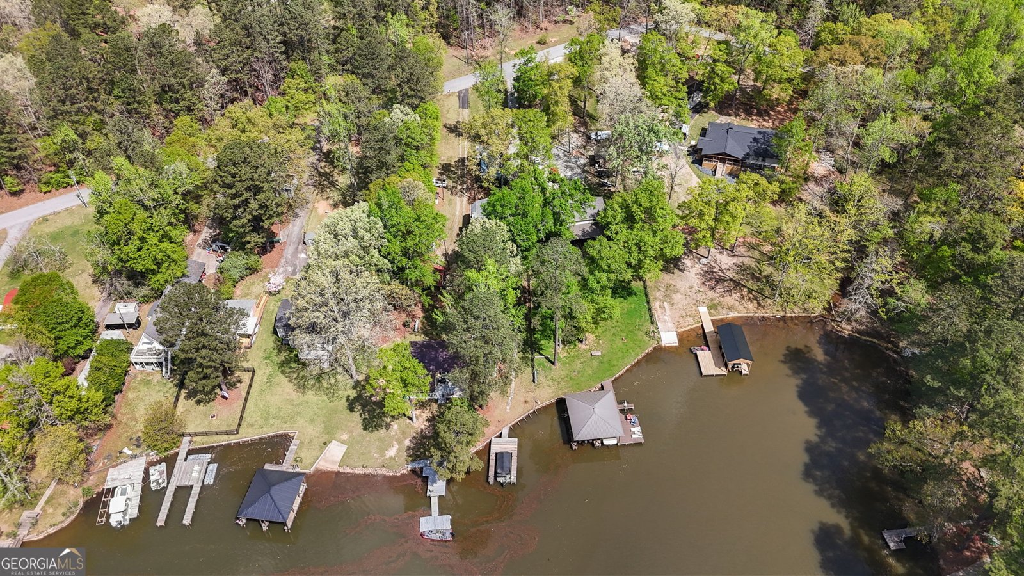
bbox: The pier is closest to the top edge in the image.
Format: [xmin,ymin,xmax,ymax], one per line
[695,321,728,378]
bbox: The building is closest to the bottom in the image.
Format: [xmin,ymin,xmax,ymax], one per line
[237,469,310,540]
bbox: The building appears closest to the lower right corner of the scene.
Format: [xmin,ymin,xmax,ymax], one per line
[712,322,754,376]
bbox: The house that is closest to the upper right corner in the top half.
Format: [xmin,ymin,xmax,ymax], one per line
[700,119,778,183]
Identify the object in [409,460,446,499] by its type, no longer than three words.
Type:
pier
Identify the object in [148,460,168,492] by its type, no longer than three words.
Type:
boat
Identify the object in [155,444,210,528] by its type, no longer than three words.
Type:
pier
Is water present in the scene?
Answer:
Yes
